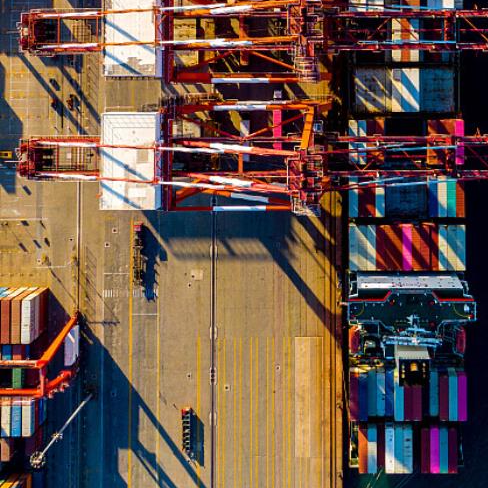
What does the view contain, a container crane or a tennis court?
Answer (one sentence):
Looking from above, you can make out a container crane.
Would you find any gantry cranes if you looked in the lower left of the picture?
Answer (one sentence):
Yes, a gantry crane shows up in the lower left of the picture.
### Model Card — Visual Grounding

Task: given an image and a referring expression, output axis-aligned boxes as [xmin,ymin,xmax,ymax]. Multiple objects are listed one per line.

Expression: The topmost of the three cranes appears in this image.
[5,0,488,92]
